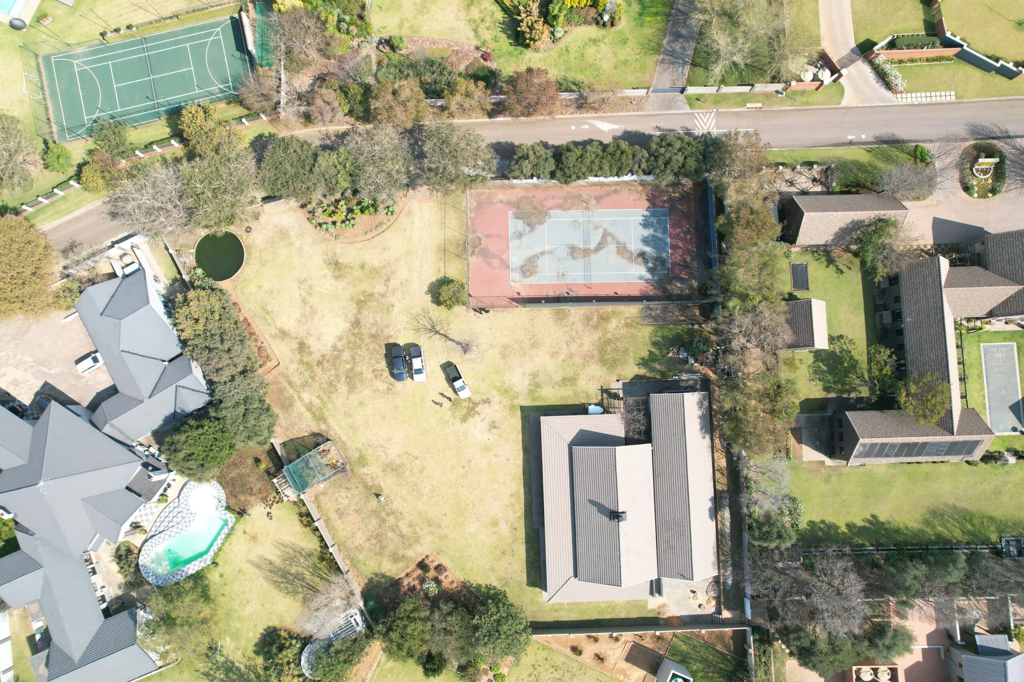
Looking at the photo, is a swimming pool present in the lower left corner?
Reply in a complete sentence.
Yes, a swimming pool can be seen in the lower left corner.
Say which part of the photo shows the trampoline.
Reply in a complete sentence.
You can find the trampoline in the right area of the picture.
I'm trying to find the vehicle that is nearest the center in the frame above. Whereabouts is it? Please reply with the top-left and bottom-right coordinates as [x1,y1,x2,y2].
[446,362,472,400]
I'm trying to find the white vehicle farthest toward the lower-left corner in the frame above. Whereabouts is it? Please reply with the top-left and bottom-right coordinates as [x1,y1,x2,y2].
[76,353,101,373]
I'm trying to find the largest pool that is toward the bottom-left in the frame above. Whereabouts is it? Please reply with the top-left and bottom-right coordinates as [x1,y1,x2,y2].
[135,479,228,577]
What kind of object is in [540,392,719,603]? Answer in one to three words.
house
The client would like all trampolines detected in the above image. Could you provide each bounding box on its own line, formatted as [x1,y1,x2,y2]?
[788,261,811,292]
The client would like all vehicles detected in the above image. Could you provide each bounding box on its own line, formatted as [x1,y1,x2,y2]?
[446,362,472,400]
[391,345,409,383]
[76,353,101,373]
[32,396,49,410]
[9,402,34,420]
[410,345,428,383]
